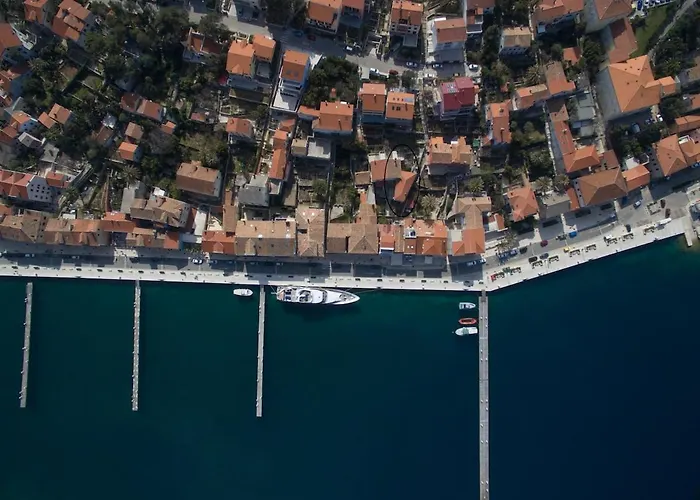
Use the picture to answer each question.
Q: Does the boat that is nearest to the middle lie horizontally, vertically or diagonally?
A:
horizontally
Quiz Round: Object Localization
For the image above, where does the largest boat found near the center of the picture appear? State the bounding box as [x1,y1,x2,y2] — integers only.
[268,285,379,305]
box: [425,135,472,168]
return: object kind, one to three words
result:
house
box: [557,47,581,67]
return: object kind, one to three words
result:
house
